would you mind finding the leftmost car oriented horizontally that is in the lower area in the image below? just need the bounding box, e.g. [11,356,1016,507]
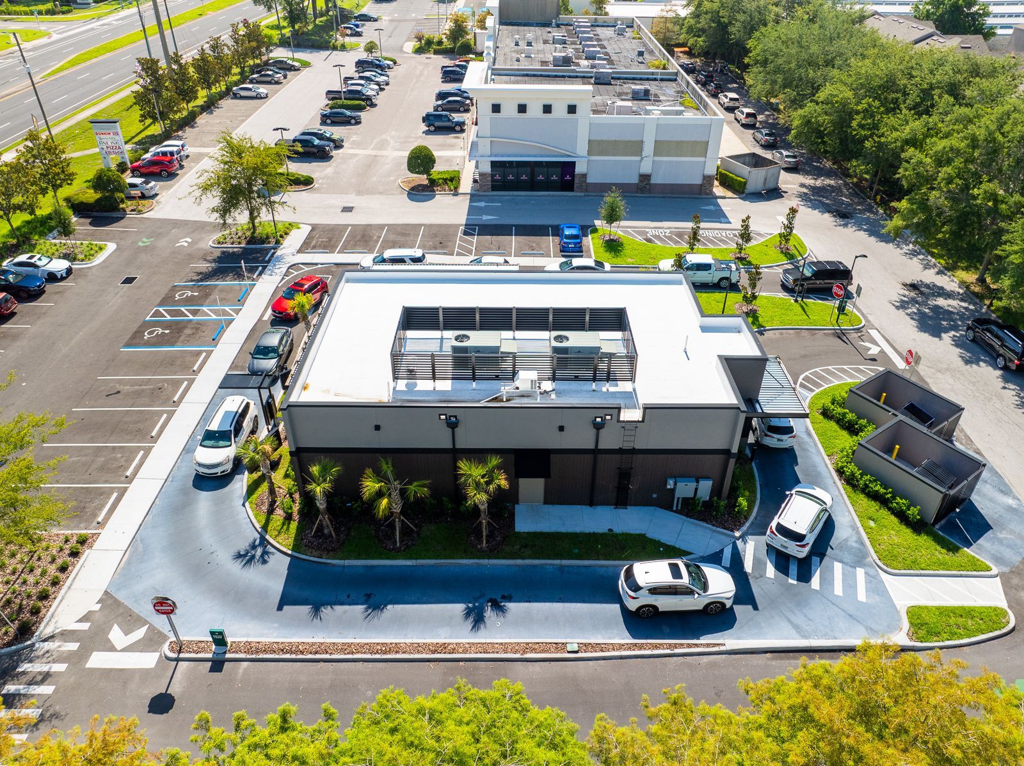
[614,560,740,621]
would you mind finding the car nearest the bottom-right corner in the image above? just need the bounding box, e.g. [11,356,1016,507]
[759,487,835,571]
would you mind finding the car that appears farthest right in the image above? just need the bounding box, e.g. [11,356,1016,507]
[957,317,1024,377]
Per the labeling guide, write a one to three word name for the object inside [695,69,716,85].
car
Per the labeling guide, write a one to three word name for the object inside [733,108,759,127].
car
